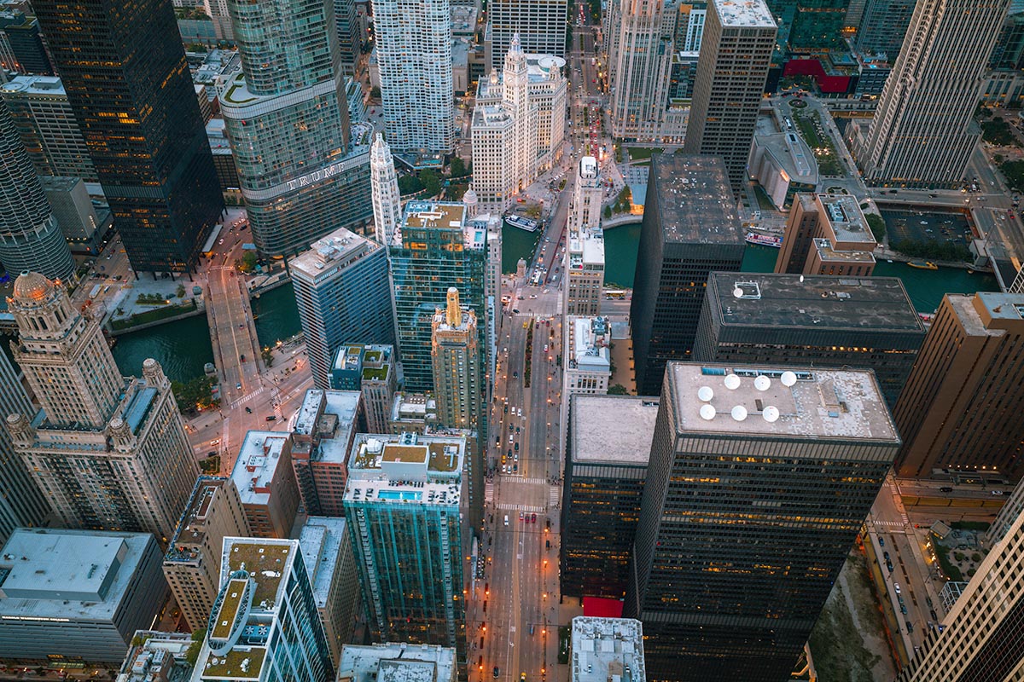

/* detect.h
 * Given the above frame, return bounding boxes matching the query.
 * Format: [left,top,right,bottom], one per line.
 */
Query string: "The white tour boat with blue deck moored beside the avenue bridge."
[504,216,540,233]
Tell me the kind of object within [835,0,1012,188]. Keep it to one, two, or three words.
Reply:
building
